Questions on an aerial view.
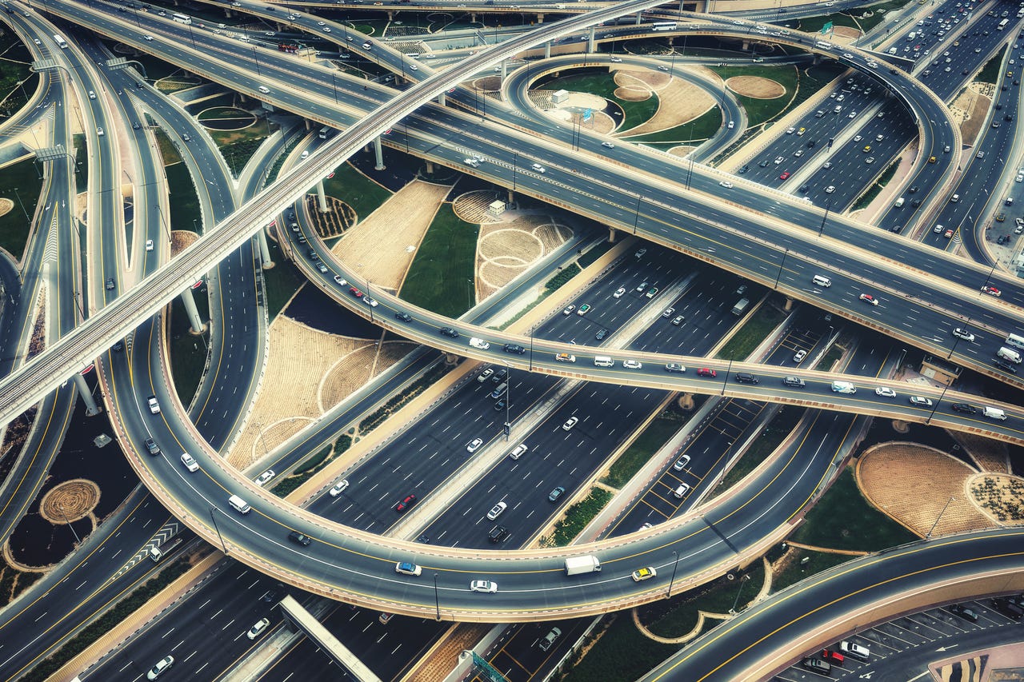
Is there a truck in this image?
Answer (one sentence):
Yes, there's a truck down there.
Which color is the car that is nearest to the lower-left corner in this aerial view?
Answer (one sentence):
The car that is nearest to the lower-left corner is white.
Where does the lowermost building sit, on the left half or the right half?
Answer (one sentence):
You can find the lowermost building on the right side of the picture.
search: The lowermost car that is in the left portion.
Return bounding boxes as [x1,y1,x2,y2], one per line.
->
[145,654,175,681]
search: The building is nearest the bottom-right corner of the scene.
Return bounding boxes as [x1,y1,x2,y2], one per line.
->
[918,354,966,391]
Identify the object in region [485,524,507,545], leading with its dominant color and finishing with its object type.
black truck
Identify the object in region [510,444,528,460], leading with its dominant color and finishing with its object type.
white car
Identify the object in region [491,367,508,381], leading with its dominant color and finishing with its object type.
black car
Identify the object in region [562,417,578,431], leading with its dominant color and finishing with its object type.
white car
